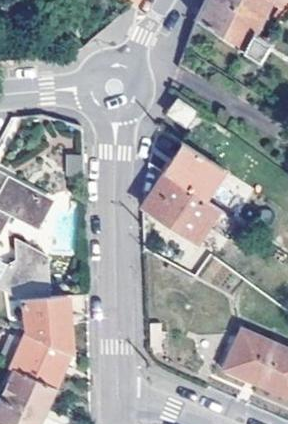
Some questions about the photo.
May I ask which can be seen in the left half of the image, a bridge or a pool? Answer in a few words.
pool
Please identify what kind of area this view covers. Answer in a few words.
residential area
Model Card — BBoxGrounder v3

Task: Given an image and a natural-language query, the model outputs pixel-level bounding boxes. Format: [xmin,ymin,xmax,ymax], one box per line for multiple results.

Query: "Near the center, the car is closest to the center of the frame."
[143,170,155,192]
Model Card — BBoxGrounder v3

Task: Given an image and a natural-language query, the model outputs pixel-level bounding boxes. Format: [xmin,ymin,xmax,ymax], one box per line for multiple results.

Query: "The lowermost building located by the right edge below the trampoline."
[222,326,288,401]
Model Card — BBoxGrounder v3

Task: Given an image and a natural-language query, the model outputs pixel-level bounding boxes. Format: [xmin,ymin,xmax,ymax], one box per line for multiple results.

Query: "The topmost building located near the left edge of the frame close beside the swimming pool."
[0,176,53,229]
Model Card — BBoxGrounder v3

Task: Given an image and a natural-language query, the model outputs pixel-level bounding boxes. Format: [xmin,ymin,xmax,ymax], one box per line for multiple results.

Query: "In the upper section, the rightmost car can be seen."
[164,8,179,30]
